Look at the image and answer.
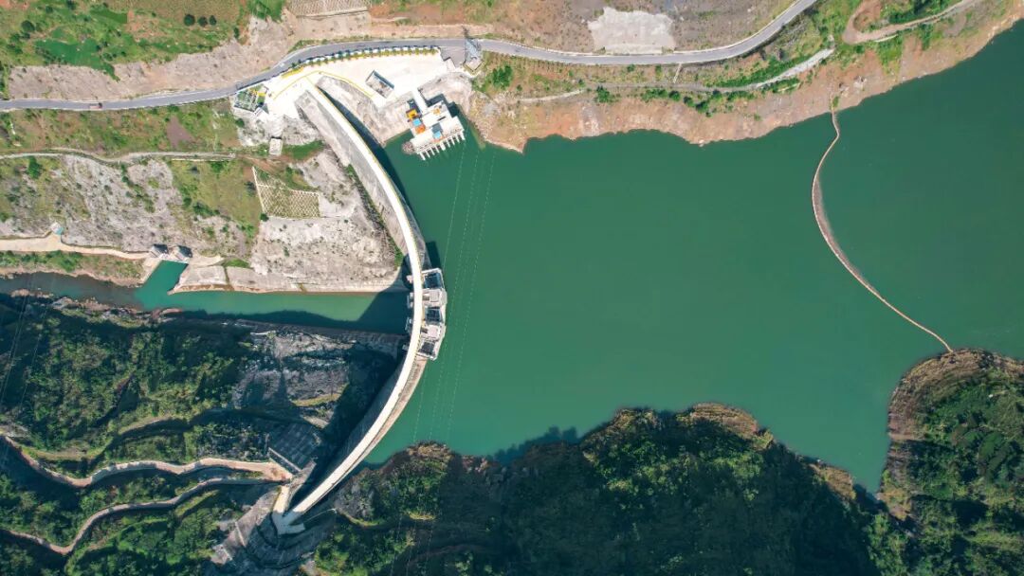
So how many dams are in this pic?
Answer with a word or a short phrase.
1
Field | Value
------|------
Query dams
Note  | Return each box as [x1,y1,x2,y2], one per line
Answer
[281,65,449,527]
